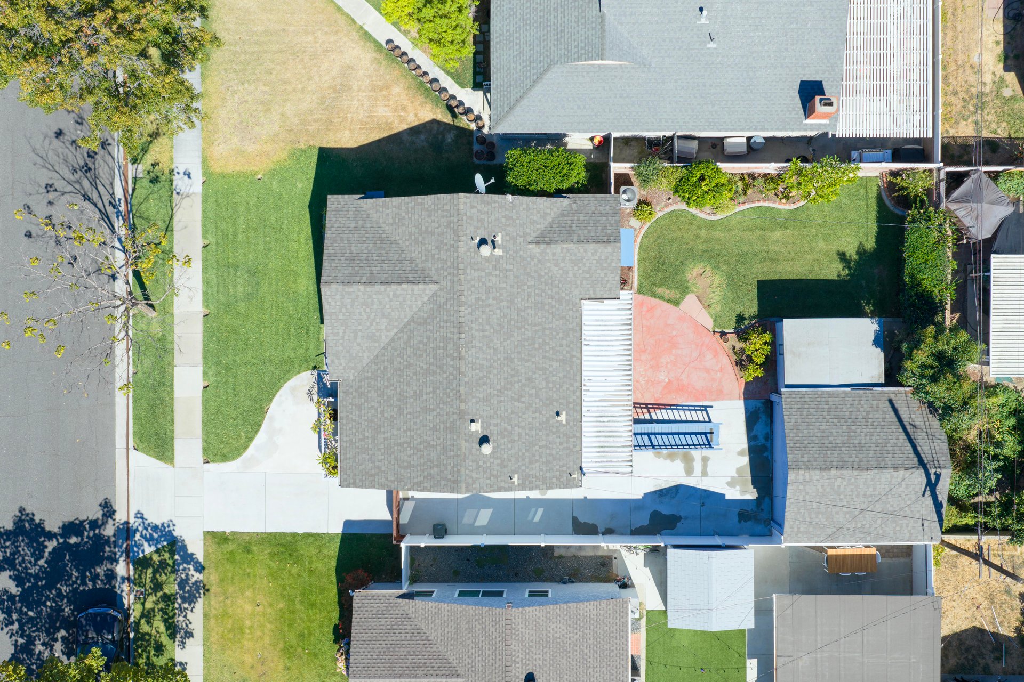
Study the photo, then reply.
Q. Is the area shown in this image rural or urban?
urban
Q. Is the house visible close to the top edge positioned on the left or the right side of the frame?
right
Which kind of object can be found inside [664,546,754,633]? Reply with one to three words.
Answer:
shed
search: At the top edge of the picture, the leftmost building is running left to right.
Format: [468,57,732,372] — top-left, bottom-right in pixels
[489,0,851,150]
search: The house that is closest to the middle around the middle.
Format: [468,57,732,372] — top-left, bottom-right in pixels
[319,192,623,494]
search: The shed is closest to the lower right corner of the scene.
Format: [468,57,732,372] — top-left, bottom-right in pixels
[771,594,941,682]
